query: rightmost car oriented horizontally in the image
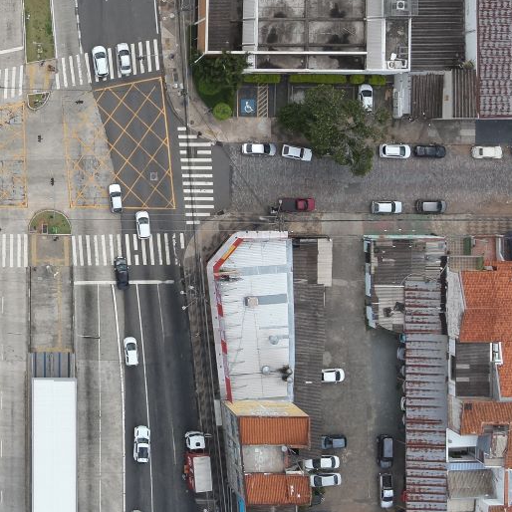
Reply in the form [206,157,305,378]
[469,145,503,161]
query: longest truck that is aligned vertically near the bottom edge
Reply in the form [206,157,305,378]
[183,429,209,495]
